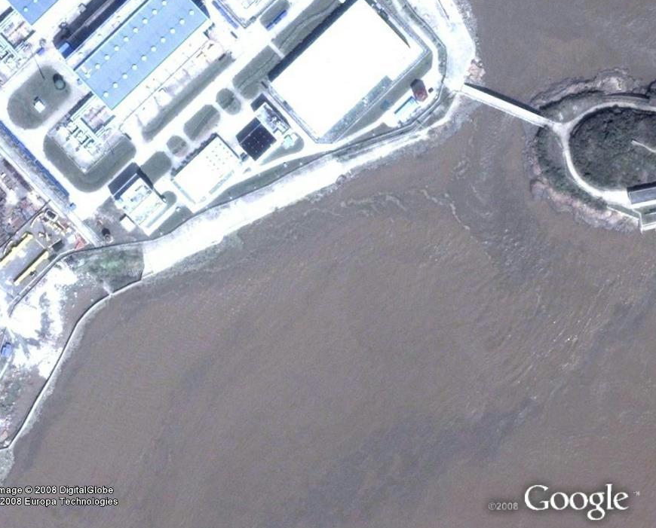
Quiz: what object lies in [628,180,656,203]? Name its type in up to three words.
building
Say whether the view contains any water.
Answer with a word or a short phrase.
Yes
